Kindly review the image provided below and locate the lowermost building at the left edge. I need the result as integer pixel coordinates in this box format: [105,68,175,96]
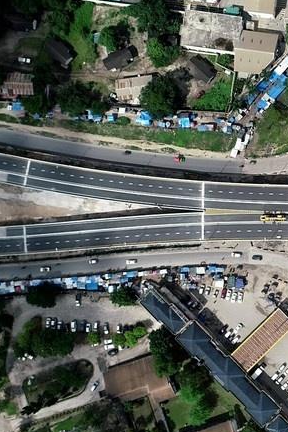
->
[0,74,36,97]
